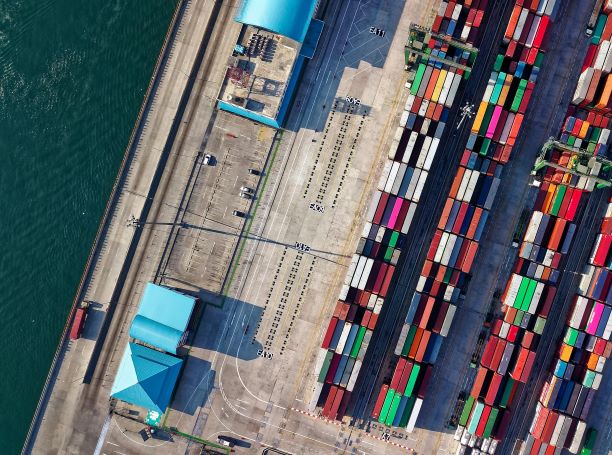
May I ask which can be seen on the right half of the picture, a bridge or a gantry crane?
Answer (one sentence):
Looking on the right half of the picture, you will find a gantry crane.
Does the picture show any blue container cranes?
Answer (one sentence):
No, I find no blue container crane anywhere in the image.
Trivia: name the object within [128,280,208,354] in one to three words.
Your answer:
building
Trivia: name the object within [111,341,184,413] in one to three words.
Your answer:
building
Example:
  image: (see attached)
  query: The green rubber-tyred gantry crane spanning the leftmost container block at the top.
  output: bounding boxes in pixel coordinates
[402,19,481,92]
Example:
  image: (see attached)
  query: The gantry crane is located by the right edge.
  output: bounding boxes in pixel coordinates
[528,132,612,195]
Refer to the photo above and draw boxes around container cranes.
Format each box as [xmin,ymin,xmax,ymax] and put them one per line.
[528,132,612,195]
[402,19,481,92]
